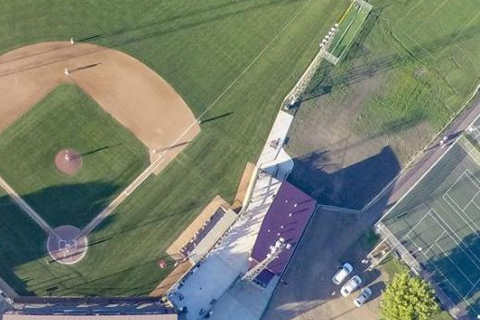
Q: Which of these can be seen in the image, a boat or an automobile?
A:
automobile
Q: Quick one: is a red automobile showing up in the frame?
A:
No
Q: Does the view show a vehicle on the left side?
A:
No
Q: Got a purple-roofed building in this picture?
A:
Yes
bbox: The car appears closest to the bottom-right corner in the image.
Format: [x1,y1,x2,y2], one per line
[354,288,372,309]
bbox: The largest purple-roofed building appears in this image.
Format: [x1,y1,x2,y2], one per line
[241,181,317,279]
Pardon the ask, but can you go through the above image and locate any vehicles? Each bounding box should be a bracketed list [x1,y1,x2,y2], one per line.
[341,276,361,298]
[354,288,372,309]
[332,264,353,286]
